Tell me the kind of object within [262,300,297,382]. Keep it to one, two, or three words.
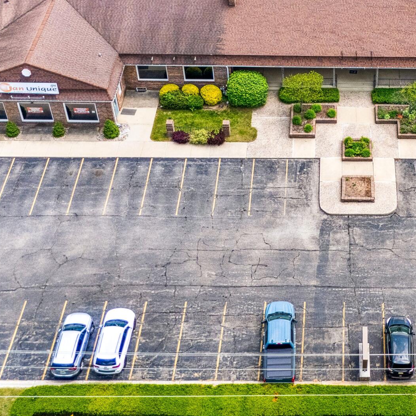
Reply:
truck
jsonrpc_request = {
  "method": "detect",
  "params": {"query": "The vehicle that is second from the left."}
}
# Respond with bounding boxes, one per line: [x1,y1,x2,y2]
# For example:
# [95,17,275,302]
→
[94,310,135,376]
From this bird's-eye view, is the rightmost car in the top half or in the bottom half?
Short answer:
bottom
